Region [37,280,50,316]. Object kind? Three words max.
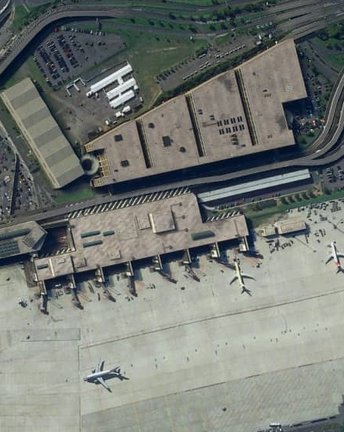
jet bridge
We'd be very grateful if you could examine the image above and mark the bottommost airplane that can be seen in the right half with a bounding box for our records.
[229,262,255,290]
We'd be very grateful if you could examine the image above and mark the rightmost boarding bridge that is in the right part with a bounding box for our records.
[236,237,266,259]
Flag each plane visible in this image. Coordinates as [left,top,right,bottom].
[325,241,344,270]
[229,262,255,290]
[83,356,122,390]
